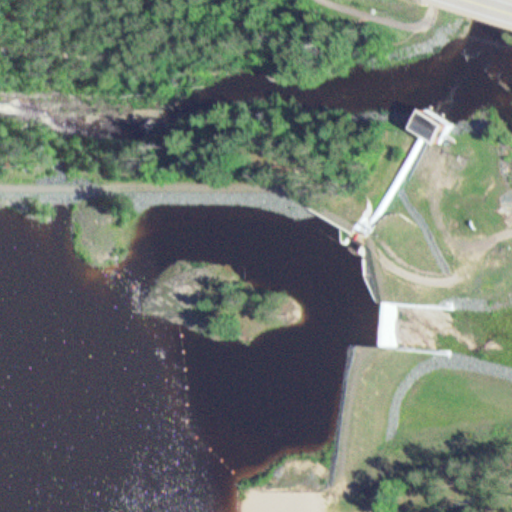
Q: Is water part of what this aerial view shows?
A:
Yes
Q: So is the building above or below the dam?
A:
above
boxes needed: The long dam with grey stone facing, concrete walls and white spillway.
[0,190,454,487]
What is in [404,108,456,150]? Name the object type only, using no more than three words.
building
